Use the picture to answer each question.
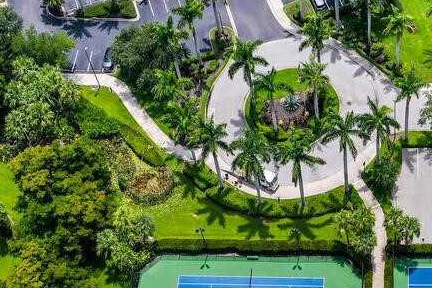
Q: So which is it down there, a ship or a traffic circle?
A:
traffic circle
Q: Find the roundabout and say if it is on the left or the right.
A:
right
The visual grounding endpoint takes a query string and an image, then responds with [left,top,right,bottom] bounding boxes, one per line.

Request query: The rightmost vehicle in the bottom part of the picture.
[253,173,281,194]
